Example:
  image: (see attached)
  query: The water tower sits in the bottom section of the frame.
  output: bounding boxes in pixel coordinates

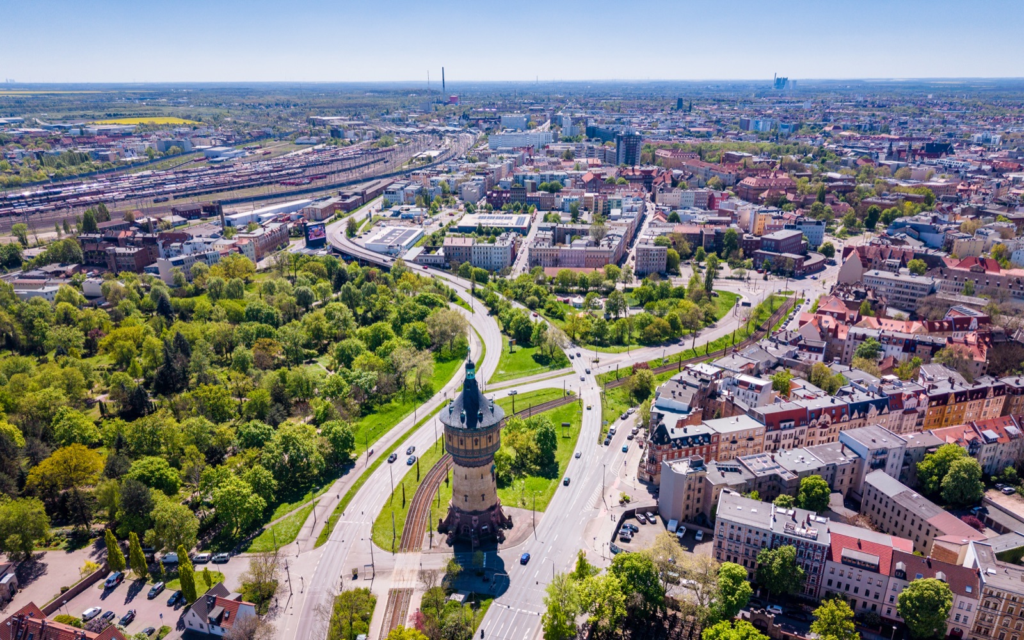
[435,342,513,553]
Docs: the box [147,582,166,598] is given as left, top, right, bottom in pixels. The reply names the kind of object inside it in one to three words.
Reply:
car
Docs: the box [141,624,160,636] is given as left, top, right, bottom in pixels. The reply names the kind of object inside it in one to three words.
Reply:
vehicle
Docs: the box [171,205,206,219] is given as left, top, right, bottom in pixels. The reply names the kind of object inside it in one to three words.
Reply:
house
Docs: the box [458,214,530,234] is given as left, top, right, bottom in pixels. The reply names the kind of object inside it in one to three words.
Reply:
building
